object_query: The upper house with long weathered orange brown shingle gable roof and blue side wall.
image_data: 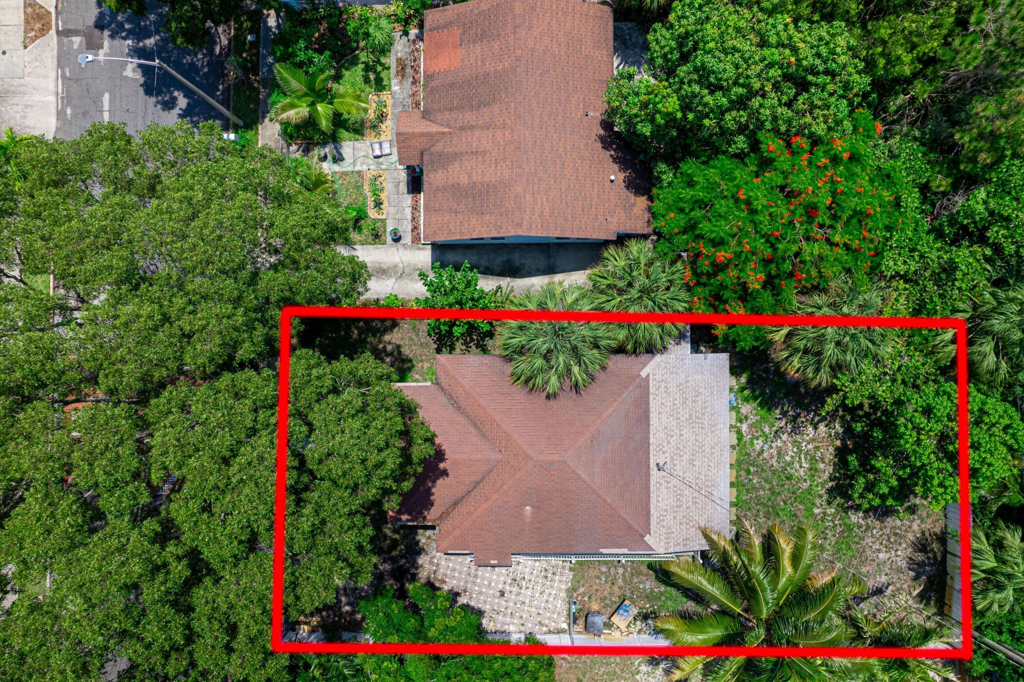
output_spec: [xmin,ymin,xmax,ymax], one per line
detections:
[395,0,653,245]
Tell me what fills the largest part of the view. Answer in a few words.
trees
